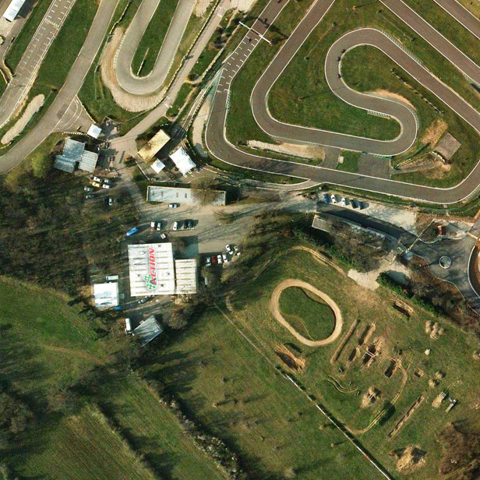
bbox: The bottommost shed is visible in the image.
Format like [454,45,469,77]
[133,316,162,341]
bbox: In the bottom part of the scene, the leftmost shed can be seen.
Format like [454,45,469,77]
[93,283,119,308]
